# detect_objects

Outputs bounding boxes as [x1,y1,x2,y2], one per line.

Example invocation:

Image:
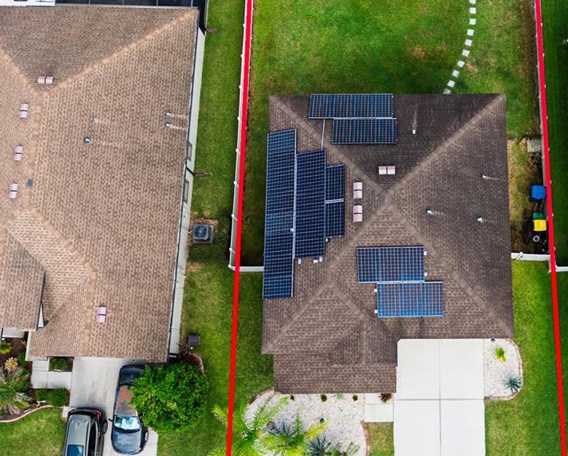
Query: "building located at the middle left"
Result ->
[0,6,219,361]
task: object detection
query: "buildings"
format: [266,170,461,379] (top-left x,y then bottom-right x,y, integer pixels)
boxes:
[0,6,219,361]
[261,93,513,393]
